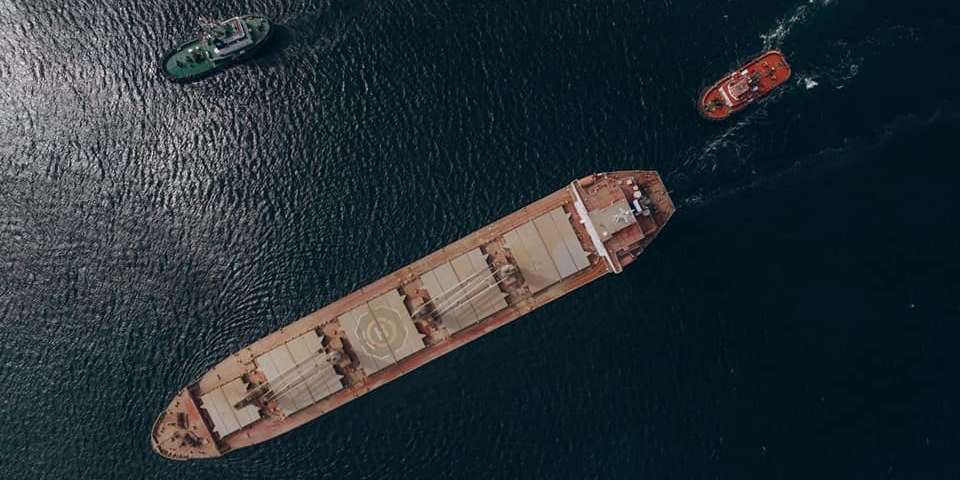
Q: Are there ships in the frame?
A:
Yes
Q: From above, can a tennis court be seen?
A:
No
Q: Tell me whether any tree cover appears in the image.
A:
No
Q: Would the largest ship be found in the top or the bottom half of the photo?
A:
bottom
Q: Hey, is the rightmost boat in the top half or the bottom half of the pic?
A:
top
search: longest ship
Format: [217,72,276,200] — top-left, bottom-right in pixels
[148,170,677,458]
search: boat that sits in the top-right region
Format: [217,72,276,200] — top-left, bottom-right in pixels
[700,53,791,114]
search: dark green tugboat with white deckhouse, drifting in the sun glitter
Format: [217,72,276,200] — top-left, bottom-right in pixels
[160,16,271,79]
